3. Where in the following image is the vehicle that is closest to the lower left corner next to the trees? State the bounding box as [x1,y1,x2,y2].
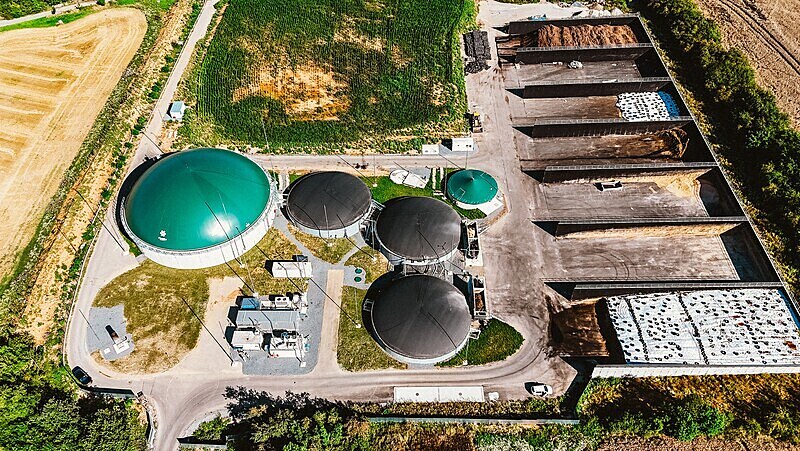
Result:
[69,367,89,387]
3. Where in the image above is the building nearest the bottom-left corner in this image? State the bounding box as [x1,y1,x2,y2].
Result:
[232,309,300,334]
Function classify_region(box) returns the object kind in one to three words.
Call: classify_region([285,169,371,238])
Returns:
storage tank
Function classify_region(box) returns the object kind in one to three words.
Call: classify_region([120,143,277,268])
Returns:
storage tank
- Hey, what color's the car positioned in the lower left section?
black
